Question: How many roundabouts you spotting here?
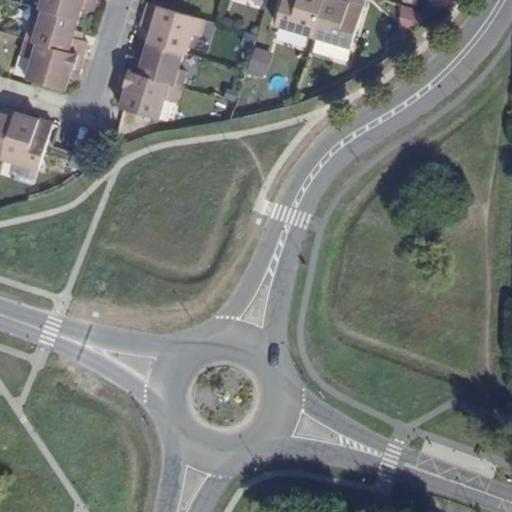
1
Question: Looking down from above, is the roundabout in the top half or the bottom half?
bottom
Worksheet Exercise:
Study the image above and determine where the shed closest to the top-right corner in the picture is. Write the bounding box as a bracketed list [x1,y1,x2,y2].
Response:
[400,3,416,28]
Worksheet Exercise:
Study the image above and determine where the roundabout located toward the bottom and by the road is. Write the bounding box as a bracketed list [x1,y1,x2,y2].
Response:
[149,321,299,471]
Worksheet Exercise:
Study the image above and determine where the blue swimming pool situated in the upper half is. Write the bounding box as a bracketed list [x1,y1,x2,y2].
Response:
[270,74,290,92]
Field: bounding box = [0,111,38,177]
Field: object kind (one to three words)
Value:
house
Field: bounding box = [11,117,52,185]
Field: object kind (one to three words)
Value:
house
